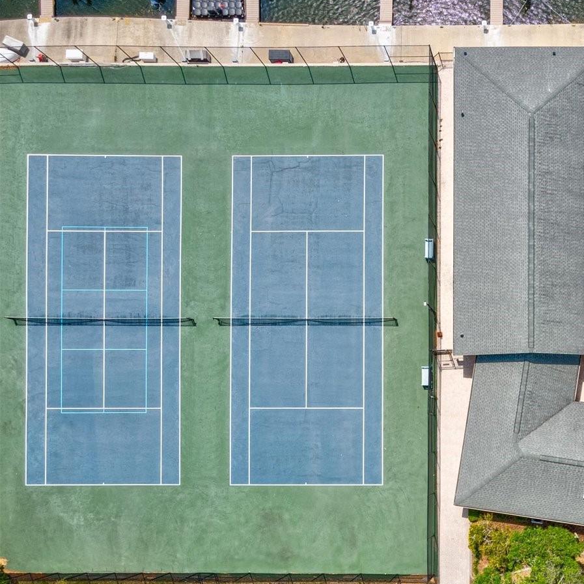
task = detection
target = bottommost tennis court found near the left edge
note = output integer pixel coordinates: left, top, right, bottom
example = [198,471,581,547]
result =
[0,65,207,575]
